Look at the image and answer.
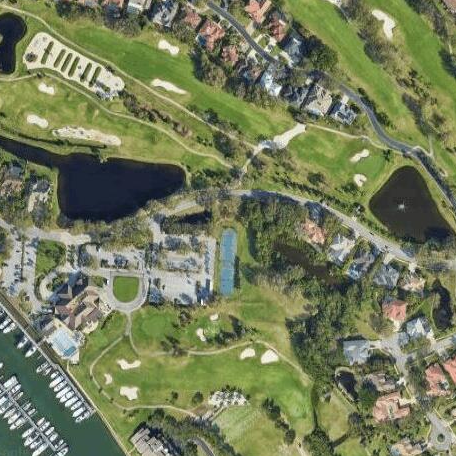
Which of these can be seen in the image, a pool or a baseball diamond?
pool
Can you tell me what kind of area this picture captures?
golf course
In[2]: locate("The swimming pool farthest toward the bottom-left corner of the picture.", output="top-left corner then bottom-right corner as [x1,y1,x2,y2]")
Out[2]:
[47,326,83,360]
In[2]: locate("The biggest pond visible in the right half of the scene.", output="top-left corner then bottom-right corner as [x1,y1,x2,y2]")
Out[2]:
[369,166,454,243]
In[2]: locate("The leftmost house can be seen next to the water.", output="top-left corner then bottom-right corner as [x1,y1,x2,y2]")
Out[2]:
[0,155,22,203]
